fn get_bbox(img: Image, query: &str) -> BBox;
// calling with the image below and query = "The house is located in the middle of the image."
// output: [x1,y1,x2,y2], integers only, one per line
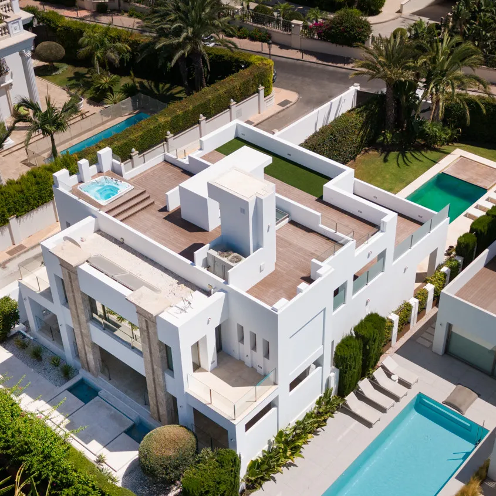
[12,118,450,472]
